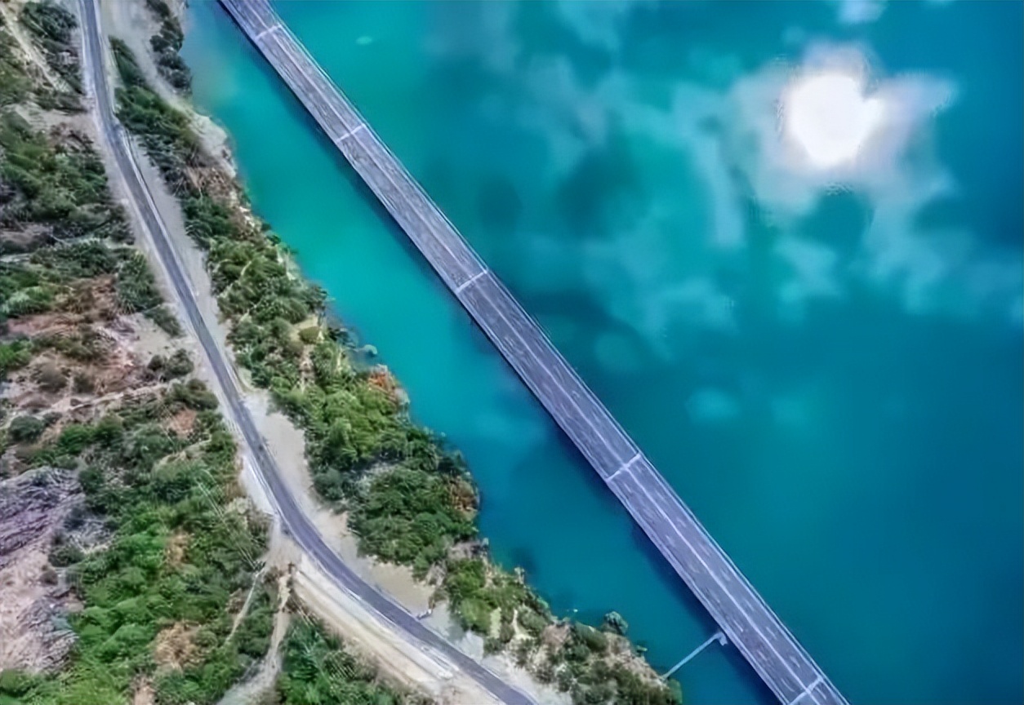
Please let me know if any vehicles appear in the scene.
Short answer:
No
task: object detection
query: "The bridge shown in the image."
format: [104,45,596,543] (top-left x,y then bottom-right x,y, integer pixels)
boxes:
[223,0,851,705]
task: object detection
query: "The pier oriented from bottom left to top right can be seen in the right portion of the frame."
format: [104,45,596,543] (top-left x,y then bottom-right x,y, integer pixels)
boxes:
[663,630,731,679]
